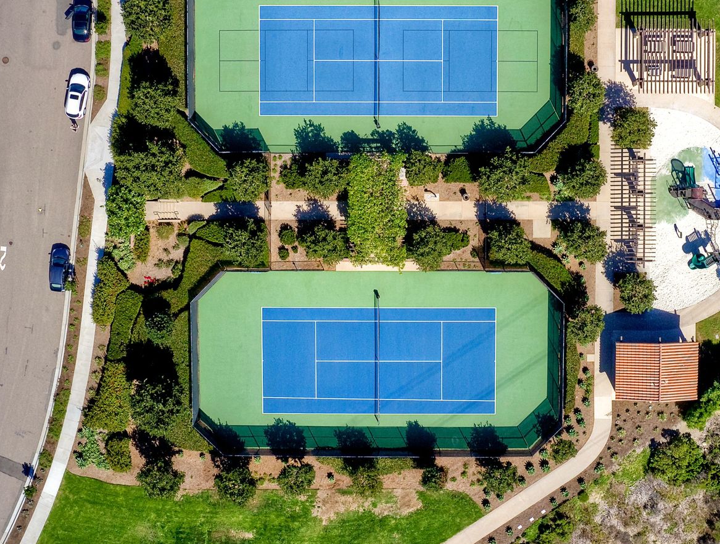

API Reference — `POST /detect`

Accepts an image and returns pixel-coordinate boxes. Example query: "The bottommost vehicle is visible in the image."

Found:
[47,245,77,290]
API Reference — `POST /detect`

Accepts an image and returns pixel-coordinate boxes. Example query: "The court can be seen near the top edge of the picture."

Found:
[195,0,562,154]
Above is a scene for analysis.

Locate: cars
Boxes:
[64,68,91,117]
[63,0,93,41]
[47,245,77,290]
